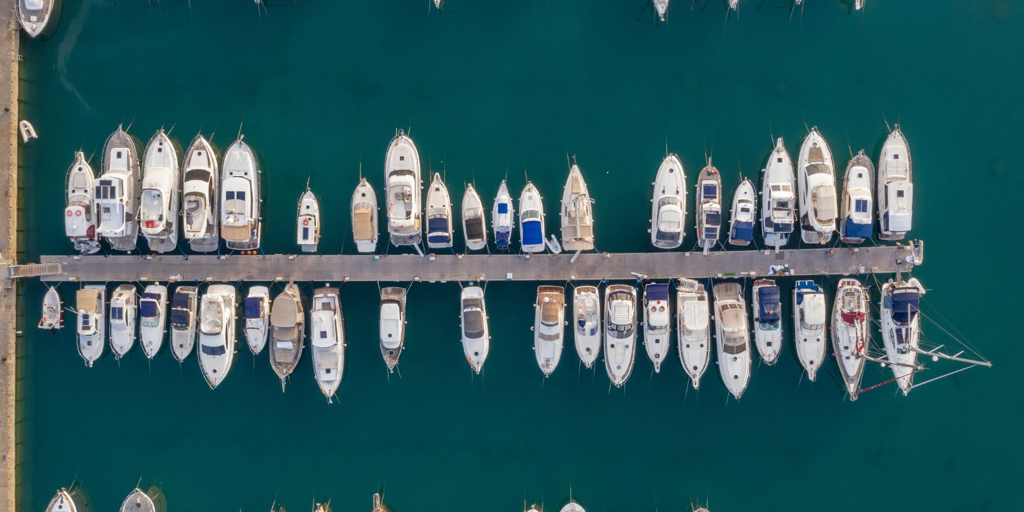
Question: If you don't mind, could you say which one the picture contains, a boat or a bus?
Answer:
boat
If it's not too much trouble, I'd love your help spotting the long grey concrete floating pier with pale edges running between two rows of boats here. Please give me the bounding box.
[40,243,912,284]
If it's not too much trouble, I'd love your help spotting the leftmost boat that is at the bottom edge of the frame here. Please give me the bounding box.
[46,486,80,512]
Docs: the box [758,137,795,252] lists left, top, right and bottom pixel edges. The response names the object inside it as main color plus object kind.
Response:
white boat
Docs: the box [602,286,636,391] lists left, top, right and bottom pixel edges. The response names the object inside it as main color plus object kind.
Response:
white boat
